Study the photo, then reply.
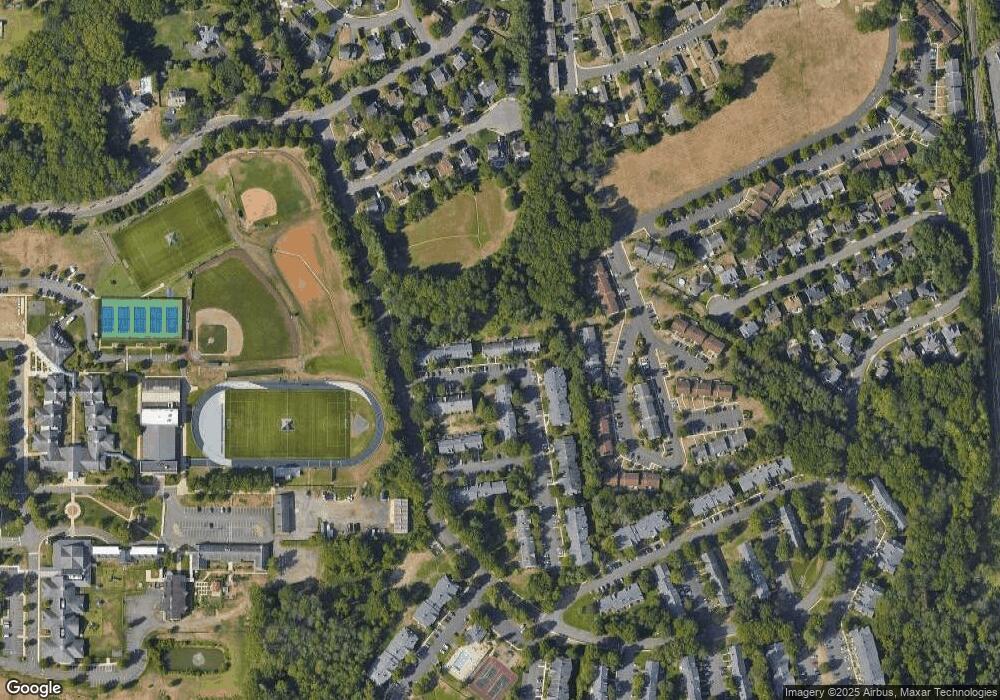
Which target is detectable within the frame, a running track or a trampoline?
running track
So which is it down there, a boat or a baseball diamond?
baseball diamond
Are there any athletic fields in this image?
Yes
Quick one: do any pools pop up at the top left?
No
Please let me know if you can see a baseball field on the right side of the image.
No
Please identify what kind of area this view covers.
residential area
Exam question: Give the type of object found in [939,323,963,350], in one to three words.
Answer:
house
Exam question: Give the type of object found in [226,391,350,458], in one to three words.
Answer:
sports field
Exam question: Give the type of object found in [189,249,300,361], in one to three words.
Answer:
baseball field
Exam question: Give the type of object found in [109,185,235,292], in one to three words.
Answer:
soccer field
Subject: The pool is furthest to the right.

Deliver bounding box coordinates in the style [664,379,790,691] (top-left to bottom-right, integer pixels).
[445,640,492,682]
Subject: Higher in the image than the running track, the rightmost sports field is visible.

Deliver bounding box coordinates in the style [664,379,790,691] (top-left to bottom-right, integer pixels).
[273,223,346,351]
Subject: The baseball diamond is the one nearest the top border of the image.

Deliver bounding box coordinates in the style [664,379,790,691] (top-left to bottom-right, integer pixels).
[218,151,318,228]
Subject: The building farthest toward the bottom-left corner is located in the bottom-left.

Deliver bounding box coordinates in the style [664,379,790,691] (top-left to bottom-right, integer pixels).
[38,542,97,667]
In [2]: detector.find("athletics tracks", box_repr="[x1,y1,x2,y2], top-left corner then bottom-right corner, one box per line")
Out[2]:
[190,380,385,468]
